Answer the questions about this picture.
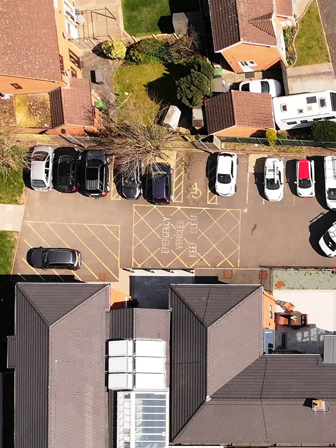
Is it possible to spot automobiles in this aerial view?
Yes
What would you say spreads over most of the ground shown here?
buildings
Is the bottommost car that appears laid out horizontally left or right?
left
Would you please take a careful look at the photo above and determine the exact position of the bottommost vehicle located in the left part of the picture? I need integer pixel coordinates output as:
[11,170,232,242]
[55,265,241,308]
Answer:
[28,244,84,272]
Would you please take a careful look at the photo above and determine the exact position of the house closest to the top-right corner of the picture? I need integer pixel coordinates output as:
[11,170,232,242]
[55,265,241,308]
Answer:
[208,0,301,77]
